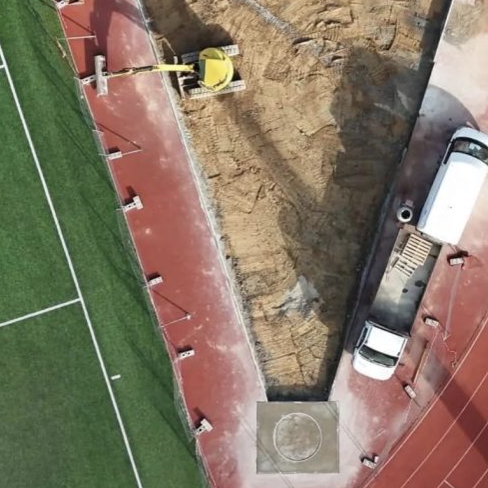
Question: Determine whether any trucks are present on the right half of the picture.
Yes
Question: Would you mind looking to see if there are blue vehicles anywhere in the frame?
No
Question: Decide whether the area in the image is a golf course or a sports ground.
sports ground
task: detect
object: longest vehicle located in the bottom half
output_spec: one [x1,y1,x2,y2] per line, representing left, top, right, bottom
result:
[358,229,445,373]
